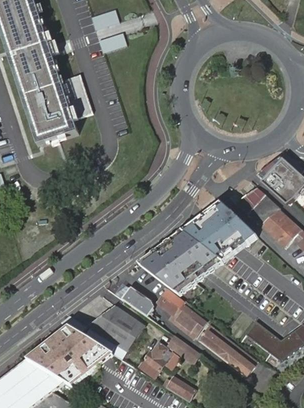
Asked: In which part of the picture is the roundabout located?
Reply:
top right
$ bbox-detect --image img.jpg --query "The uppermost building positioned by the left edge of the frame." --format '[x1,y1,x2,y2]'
[0,0,80,148]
